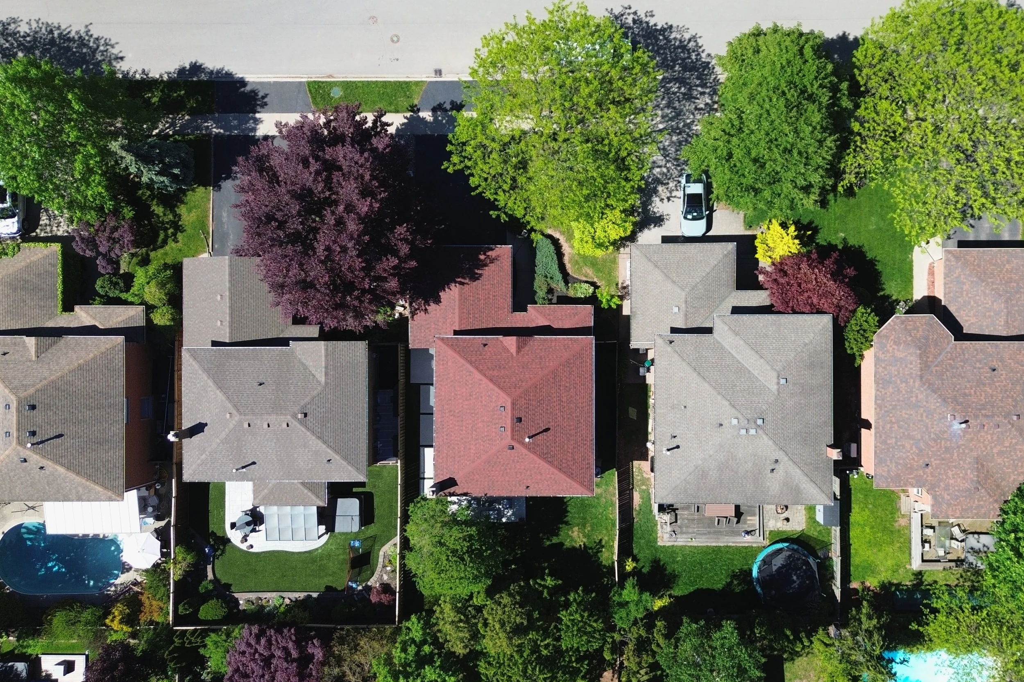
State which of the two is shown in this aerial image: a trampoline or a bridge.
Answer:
trampoline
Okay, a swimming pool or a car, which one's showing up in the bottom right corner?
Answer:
swimming pool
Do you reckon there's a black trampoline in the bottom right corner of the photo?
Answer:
Yes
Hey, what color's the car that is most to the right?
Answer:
white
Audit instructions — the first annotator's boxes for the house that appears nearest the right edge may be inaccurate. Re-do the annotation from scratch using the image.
[850,247,1024,520]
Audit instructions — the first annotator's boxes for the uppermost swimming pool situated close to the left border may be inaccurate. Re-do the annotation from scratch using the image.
[0,518,125,598]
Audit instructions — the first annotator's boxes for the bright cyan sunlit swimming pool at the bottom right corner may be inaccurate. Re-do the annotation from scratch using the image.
[880,647,1006,682]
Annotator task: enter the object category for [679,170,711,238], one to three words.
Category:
car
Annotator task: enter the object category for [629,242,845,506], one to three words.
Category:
house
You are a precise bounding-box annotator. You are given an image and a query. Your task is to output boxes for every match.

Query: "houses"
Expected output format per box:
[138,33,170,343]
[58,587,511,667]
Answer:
[850,247,1024,520]
[166,256,376,508]
[0,244,158,503]
[629,242,845,506]
[407,244,596,499]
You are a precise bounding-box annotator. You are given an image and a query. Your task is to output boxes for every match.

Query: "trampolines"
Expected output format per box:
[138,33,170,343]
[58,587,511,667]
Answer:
[750,539,828,617]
